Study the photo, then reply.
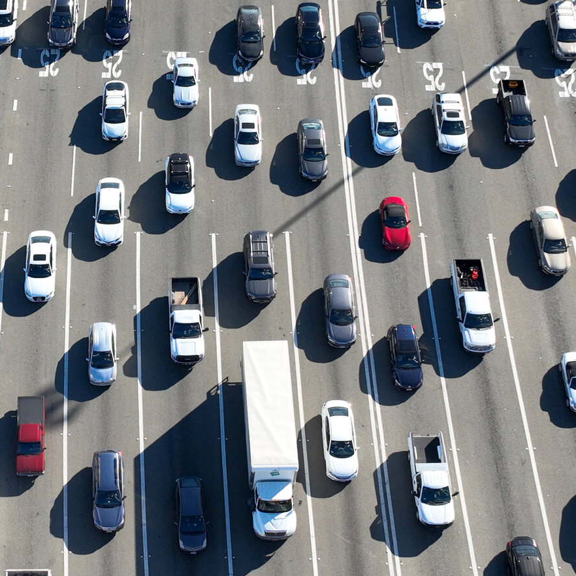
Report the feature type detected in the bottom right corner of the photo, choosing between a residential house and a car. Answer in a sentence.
It is a car that can be seen in the bottom right corner of the photo.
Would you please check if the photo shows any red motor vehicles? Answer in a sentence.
Yes, this view includes a red motor vehicle.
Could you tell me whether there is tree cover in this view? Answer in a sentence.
No, no tree cover is visible.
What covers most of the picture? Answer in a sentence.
The bulk of the photo consists of paved ground.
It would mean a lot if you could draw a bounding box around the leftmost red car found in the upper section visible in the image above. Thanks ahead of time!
[377,198,413,251]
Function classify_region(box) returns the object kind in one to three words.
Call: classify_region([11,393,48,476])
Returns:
truck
